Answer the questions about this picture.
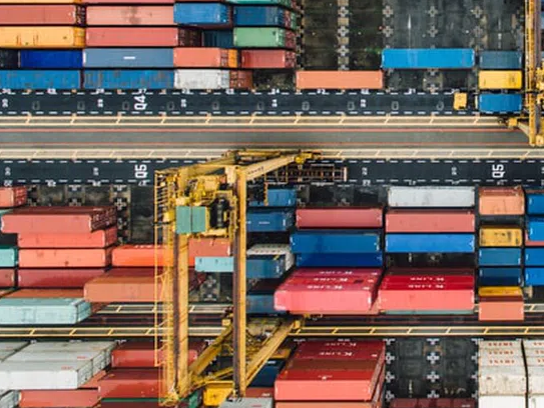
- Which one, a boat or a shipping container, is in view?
shipping container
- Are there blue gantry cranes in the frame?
No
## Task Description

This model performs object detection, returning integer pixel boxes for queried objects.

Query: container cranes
[155,152,328,401]
[500,0,544,147]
